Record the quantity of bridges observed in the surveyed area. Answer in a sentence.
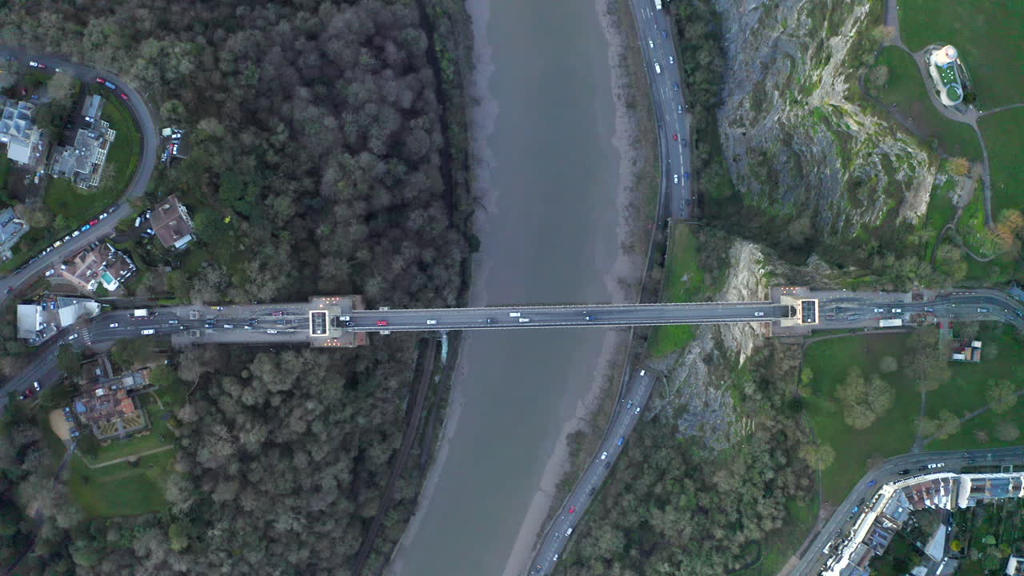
The picture shows 1 bridge.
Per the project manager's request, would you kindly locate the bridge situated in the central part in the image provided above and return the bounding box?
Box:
[201,285,917,349]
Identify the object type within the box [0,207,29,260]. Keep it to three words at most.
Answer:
house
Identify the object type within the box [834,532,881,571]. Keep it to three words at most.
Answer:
house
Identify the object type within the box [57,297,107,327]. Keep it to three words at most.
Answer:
building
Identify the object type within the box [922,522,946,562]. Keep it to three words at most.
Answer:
building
